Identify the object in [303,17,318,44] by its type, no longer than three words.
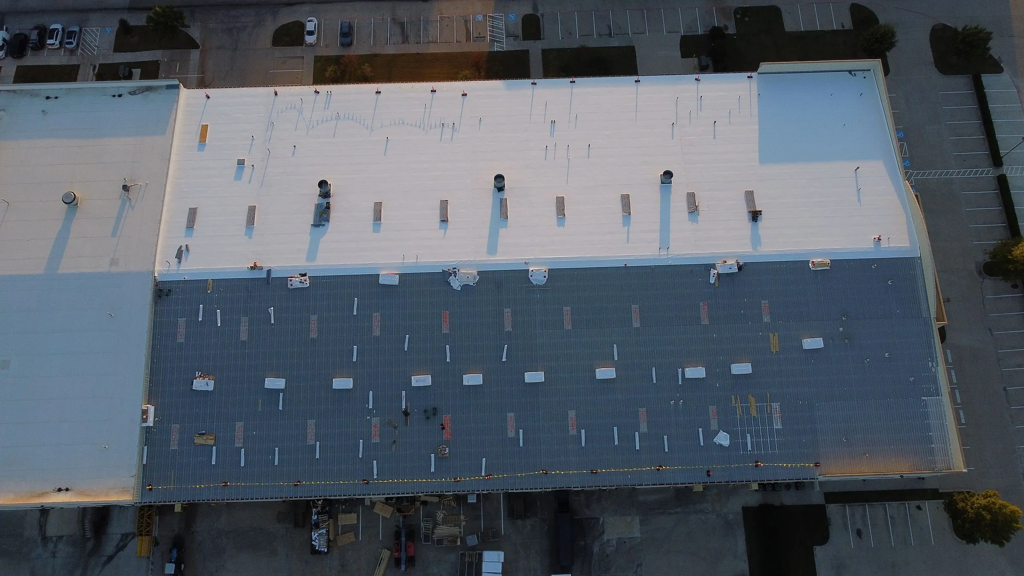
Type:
car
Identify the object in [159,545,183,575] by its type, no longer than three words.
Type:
work vehicle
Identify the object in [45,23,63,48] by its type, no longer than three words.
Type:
car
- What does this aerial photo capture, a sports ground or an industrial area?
industrial area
